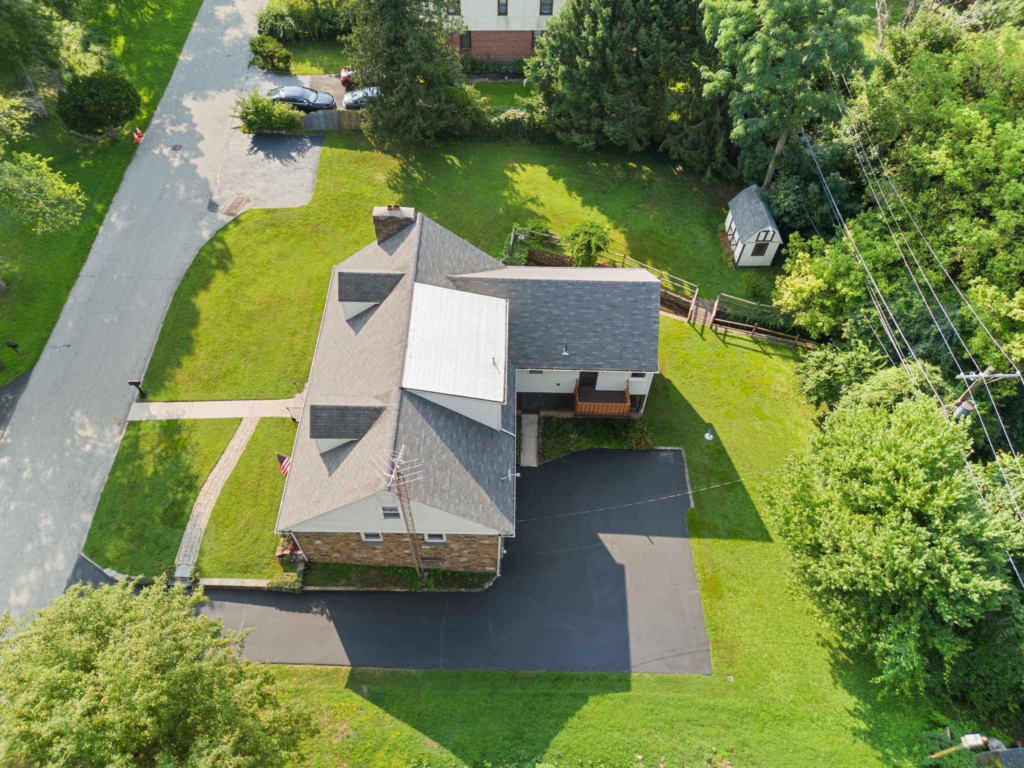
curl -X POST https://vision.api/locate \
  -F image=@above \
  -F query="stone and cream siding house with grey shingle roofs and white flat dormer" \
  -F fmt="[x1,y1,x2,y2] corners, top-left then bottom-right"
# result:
[270,203,663,582]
